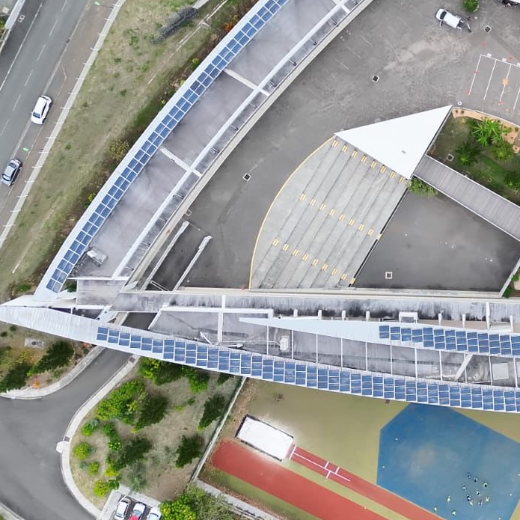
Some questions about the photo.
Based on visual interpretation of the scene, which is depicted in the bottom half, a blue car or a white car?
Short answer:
white car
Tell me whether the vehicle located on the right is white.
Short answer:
Yes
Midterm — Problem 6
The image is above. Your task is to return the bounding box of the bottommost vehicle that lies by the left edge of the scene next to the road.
[1,159,23,186]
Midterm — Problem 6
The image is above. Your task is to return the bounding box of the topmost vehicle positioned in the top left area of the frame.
[30,96,53,125]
